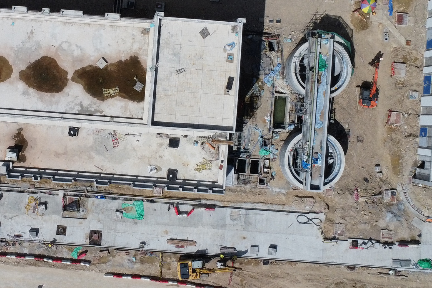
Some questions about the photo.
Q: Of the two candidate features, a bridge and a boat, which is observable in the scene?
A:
bridge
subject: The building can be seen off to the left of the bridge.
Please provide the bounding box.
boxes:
[0,3,247,195]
